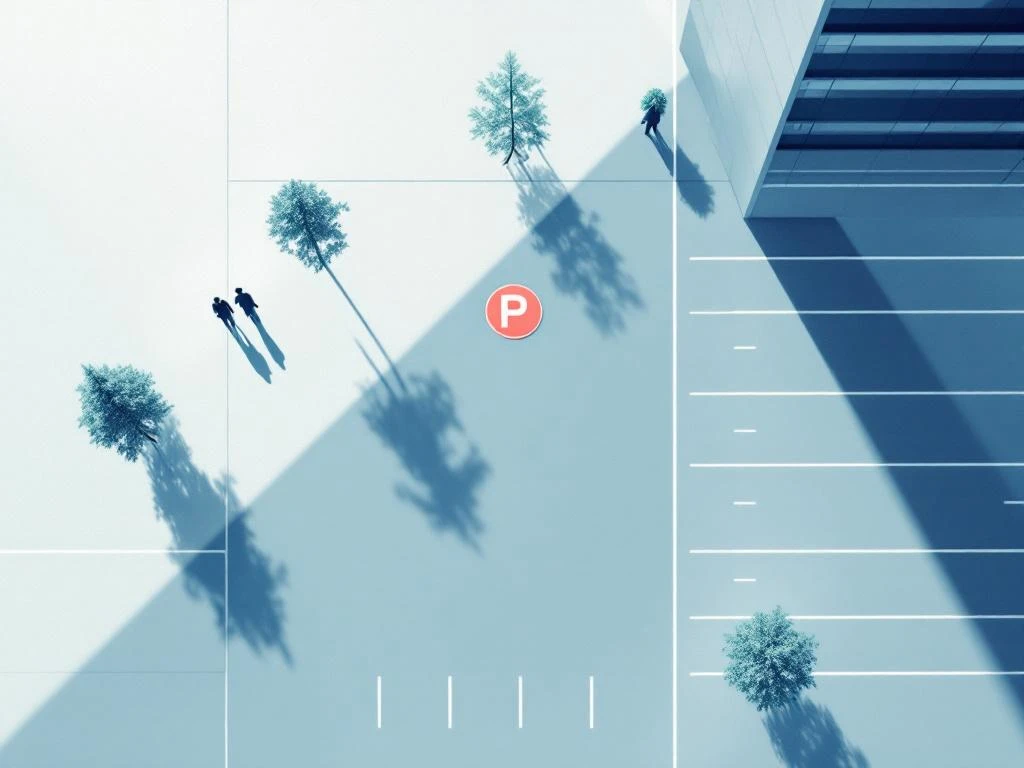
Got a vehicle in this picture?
No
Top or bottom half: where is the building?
top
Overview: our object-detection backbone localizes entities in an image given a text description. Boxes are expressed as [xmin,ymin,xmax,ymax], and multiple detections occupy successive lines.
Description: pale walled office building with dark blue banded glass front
[680,0,1024,217]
